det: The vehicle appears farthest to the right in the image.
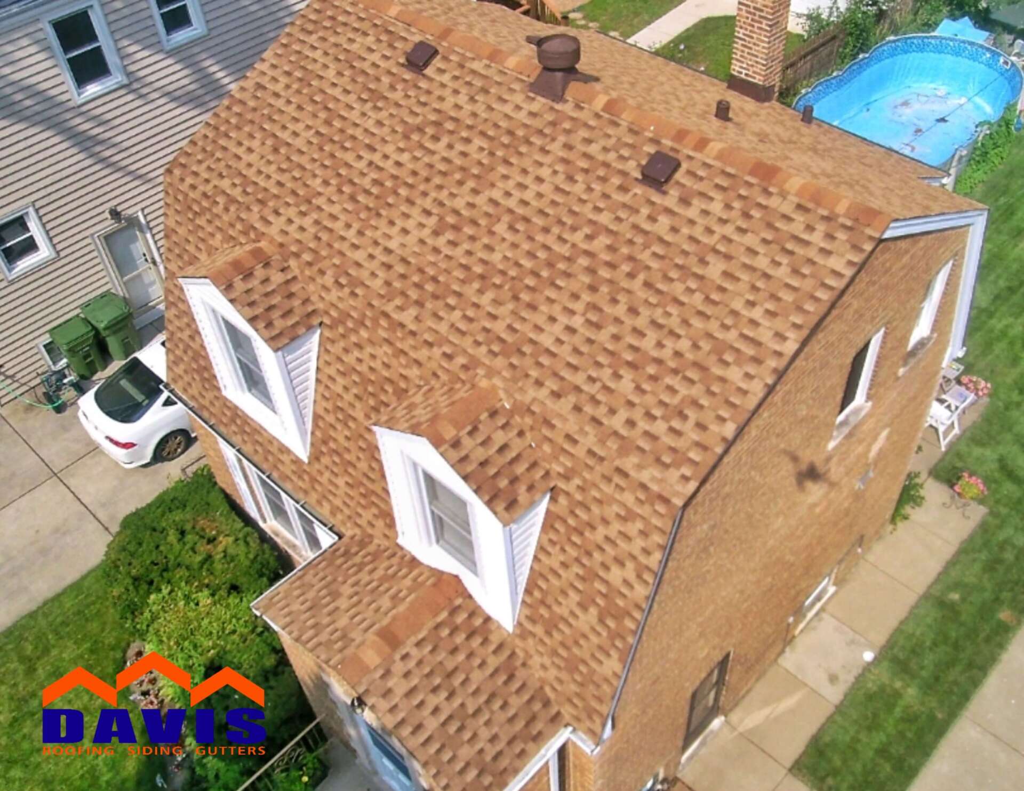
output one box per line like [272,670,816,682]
[71,337,198,475]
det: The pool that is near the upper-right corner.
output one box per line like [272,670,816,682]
[780,28,1024,198]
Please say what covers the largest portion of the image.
buildings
